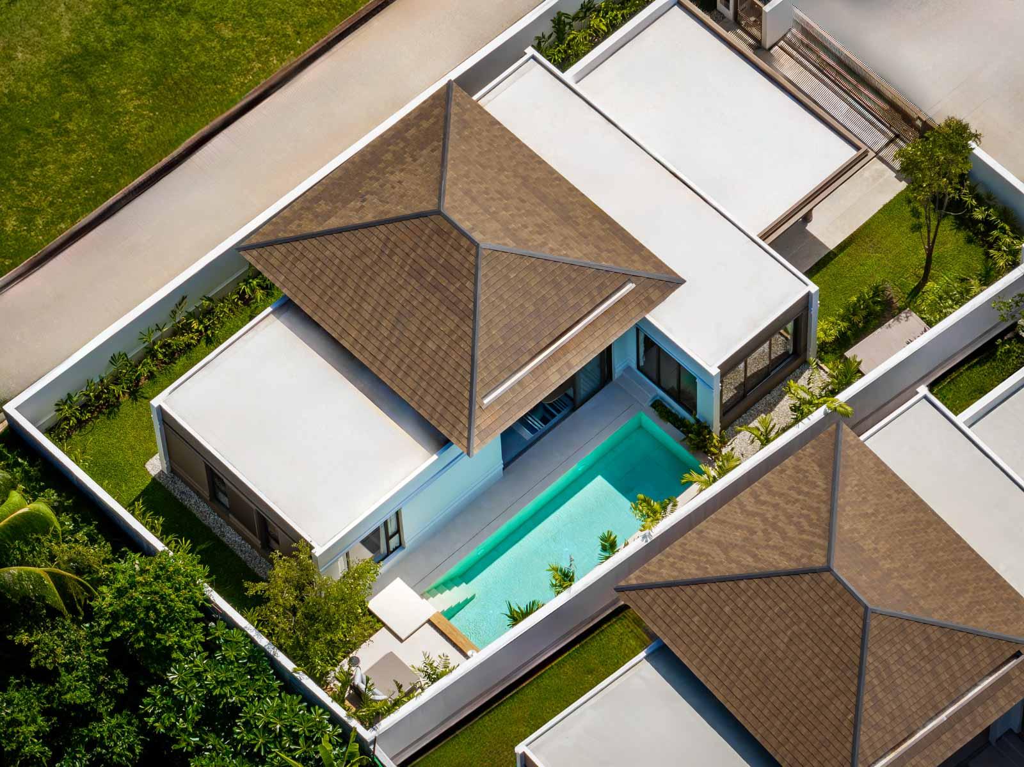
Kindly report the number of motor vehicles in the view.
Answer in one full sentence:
There are no motor vehicles in this view.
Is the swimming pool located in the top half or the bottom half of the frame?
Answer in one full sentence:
The swimming pool is in the bottom half of the image.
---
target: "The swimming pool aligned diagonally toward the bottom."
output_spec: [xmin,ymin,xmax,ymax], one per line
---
[421,412,706,650]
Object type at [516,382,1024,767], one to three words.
house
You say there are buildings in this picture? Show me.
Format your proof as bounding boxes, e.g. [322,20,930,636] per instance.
[150,46,818,617]
[516,382,1024,767]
